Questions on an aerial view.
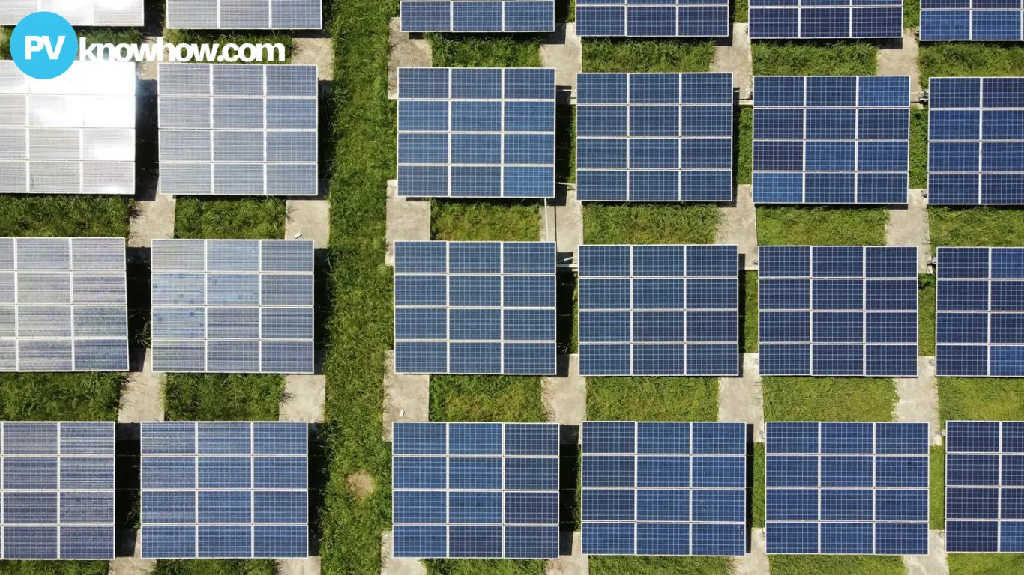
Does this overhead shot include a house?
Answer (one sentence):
No, this view has no house in it.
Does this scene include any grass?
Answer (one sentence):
Yes, grass shows up in the scene.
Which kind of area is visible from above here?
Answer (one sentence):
This looks like a solar farm.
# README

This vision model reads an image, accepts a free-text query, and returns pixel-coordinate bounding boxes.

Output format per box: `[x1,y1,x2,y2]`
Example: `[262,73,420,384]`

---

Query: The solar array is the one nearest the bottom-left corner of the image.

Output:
[0,422,128,559]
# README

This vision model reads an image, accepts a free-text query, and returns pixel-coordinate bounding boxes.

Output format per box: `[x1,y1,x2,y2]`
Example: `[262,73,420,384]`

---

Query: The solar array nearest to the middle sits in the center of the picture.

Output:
[394,242,557,374]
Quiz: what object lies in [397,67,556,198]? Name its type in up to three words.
solar array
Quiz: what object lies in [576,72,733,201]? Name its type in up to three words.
solar array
